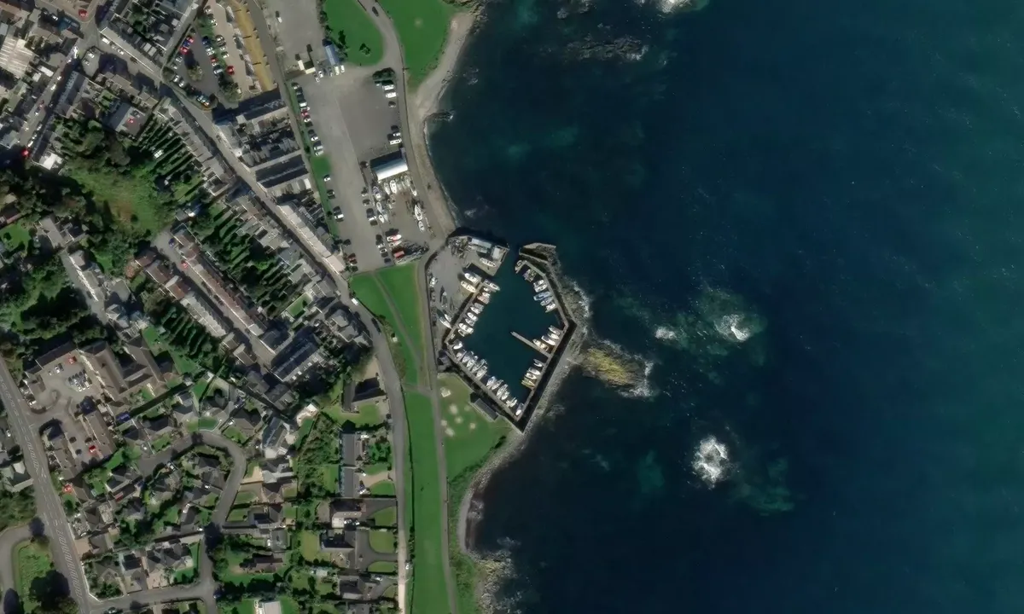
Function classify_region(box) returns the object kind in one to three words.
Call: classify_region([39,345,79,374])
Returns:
building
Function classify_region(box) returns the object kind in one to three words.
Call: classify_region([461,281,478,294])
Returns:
boat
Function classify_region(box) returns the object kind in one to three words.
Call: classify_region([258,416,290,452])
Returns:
house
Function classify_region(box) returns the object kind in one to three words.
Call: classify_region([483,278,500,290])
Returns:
boat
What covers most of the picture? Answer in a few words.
water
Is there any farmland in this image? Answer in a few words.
No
